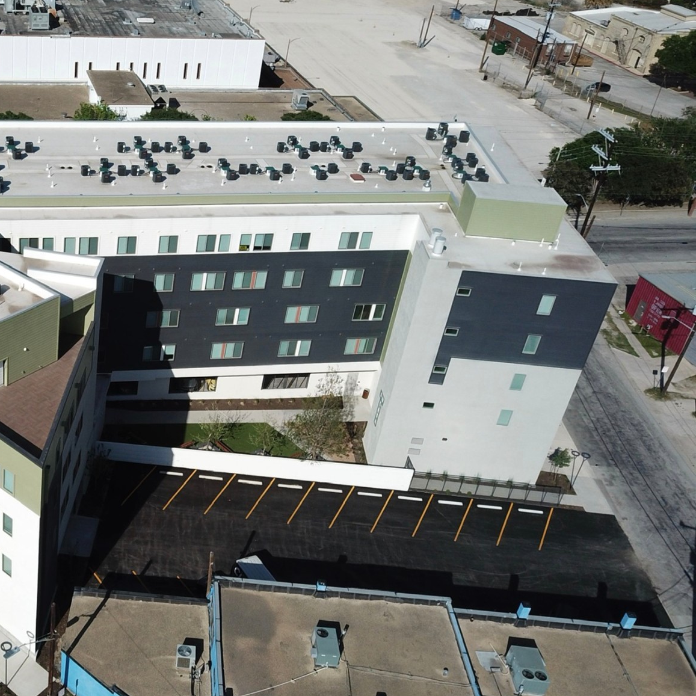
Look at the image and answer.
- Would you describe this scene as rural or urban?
urban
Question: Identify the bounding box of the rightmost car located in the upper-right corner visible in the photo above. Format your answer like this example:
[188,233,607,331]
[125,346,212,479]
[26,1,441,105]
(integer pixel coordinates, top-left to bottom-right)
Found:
[589,80,610,92]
